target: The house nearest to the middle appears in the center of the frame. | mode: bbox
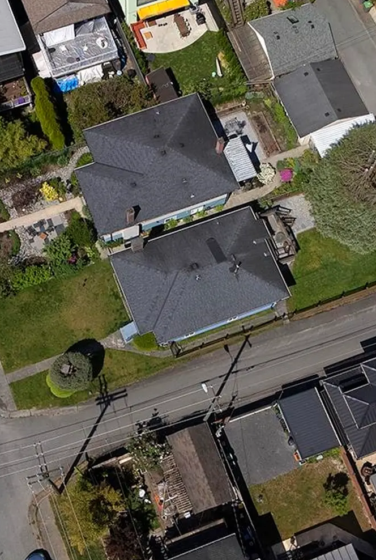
[108,206,291,349]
